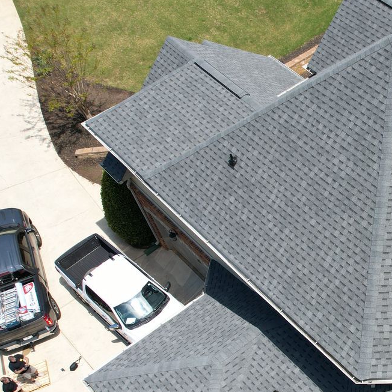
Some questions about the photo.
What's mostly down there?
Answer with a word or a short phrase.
buildings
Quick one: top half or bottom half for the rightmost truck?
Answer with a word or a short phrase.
bottom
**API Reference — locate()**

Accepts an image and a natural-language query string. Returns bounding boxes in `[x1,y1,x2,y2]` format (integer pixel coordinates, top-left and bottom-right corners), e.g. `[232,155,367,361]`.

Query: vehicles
[0,208,68,369]
[54,235,180,346]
